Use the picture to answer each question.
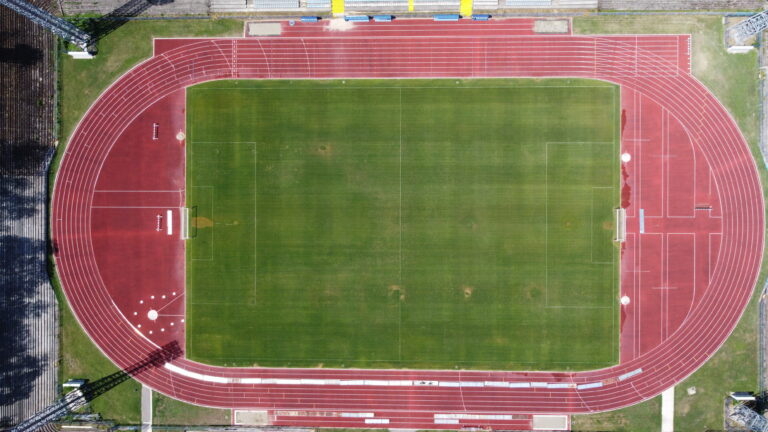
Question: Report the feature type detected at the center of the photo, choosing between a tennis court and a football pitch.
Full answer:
What appears at the center of the photo is a football pitch.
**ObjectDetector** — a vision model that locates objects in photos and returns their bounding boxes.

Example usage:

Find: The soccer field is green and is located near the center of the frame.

[185,77,621,371]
